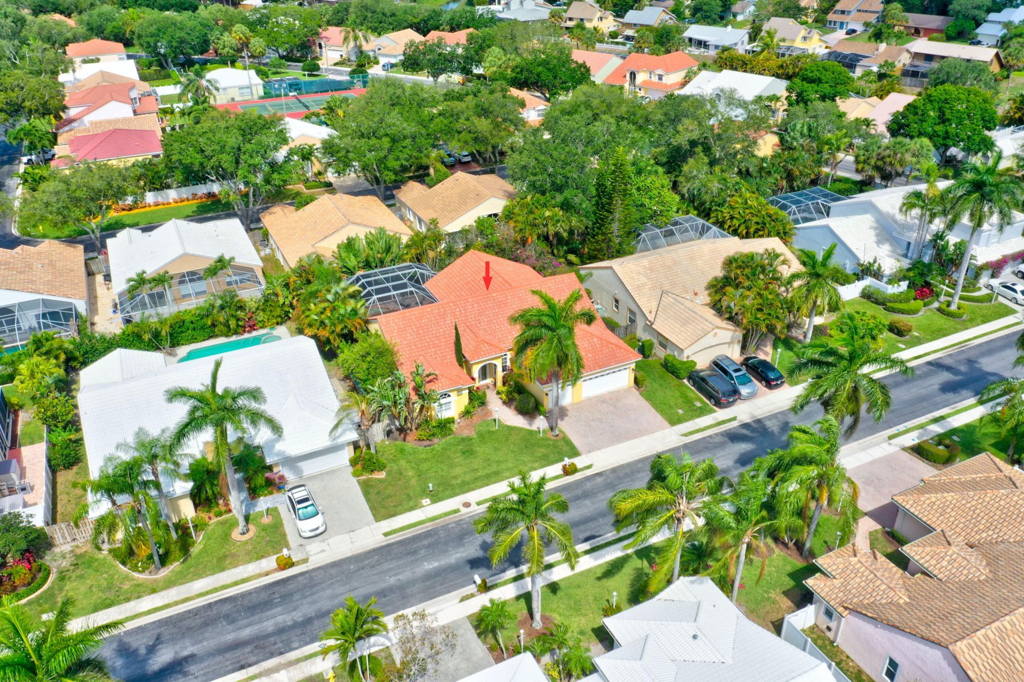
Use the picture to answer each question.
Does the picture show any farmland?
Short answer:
No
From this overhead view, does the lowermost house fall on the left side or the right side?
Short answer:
right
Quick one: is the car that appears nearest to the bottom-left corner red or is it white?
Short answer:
white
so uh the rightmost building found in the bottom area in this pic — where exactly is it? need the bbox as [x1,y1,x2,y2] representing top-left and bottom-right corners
[803,430,1024,682]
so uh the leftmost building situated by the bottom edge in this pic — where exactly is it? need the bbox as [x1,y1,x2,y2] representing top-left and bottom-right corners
[591,560,847,682]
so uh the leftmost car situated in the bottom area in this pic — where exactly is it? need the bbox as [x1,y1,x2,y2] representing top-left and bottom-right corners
[279,477,324,533]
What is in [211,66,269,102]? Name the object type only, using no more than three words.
house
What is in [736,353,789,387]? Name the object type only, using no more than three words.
car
